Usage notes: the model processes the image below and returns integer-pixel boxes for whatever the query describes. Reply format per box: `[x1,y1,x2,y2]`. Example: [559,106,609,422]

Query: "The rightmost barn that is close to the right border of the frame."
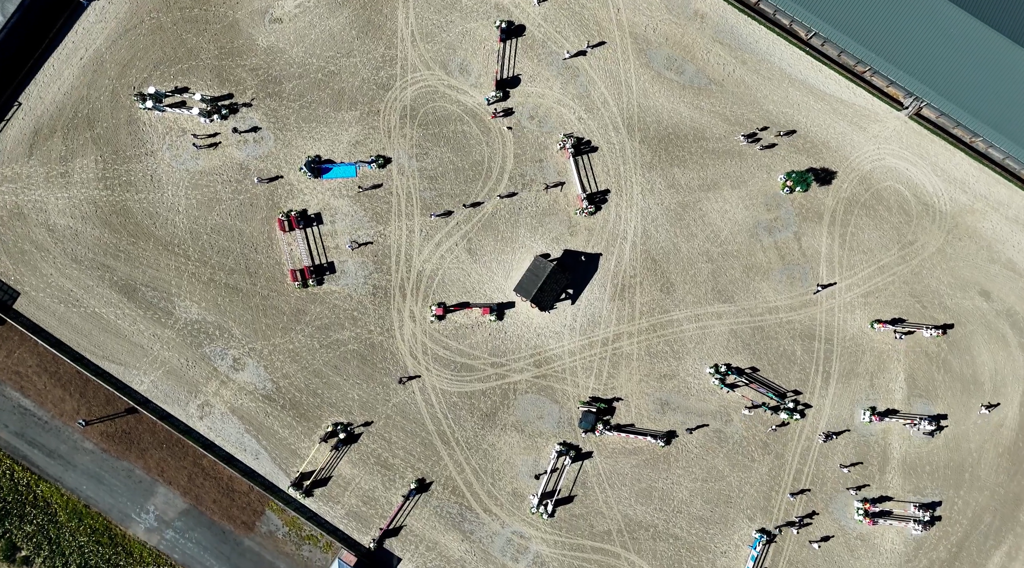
[748,0,1024,175]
